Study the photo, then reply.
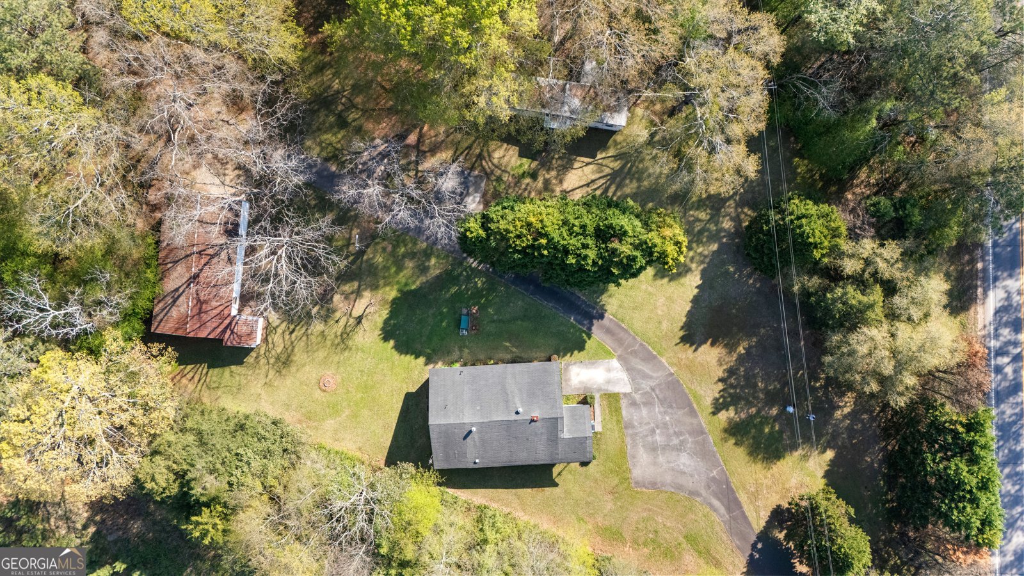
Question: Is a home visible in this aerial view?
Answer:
Yes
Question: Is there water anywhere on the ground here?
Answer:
No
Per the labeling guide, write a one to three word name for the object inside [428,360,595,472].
house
